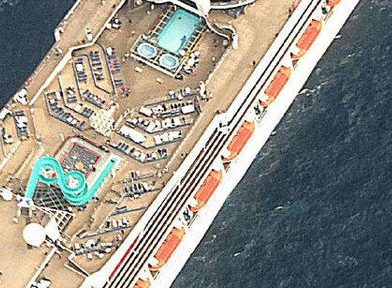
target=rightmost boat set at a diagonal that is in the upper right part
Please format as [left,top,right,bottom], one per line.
[291,15,325,59]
